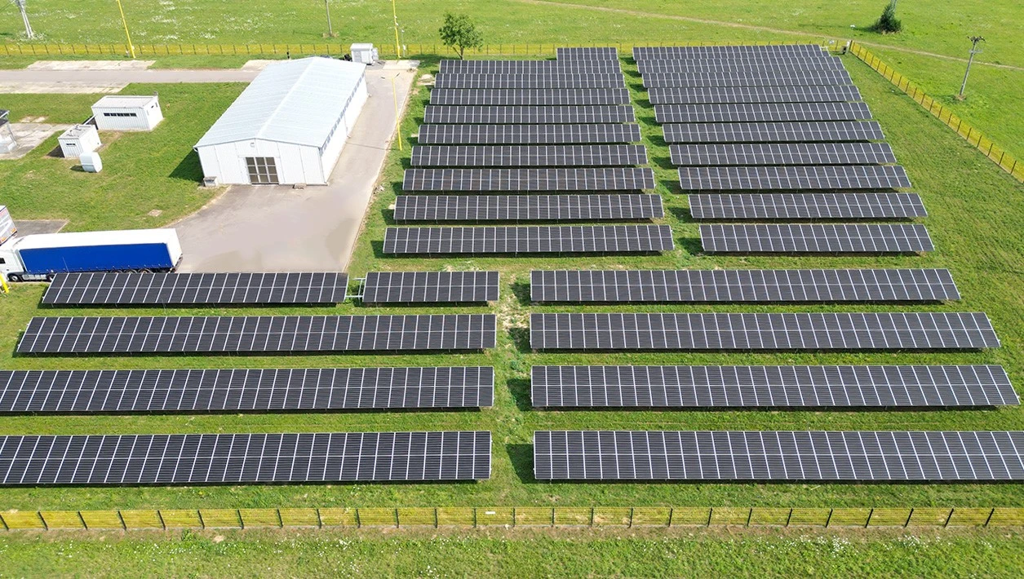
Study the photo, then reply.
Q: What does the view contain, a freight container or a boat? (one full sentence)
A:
Of the two, only a freight container appears.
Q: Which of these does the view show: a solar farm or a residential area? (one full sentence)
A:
This image shows a solar farm.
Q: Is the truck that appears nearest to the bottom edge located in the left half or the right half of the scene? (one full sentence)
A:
It is on the left.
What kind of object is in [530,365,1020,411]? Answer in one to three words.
solar array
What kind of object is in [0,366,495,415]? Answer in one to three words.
solar array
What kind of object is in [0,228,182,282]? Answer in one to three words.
truck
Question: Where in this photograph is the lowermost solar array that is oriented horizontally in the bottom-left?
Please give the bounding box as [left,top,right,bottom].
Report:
[0,431,493,487]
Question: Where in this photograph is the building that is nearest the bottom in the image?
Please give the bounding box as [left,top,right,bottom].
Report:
[193,55,372,184]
